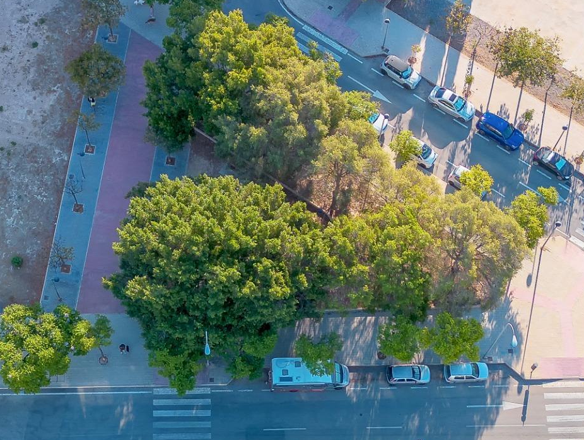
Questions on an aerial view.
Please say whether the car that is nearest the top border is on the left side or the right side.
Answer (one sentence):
The car that is nearest the top border appears in the right half of the scene.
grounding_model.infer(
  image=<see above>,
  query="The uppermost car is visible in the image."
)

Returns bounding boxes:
[381,56,420,89]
